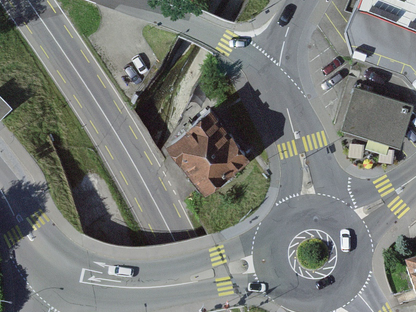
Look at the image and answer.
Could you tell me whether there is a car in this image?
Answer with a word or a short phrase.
Yes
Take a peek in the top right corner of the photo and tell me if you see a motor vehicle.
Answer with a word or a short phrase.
Yes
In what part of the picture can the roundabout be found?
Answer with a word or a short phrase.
bottom right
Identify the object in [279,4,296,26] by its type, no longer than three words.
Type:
car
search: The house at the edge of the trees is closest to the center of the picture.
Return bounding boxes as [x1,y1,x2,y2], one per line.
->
[168,104,250,198]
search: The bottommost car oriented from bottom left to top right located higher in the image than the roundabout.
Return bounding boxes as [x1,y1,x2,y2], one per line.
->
[324,71,346,89]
